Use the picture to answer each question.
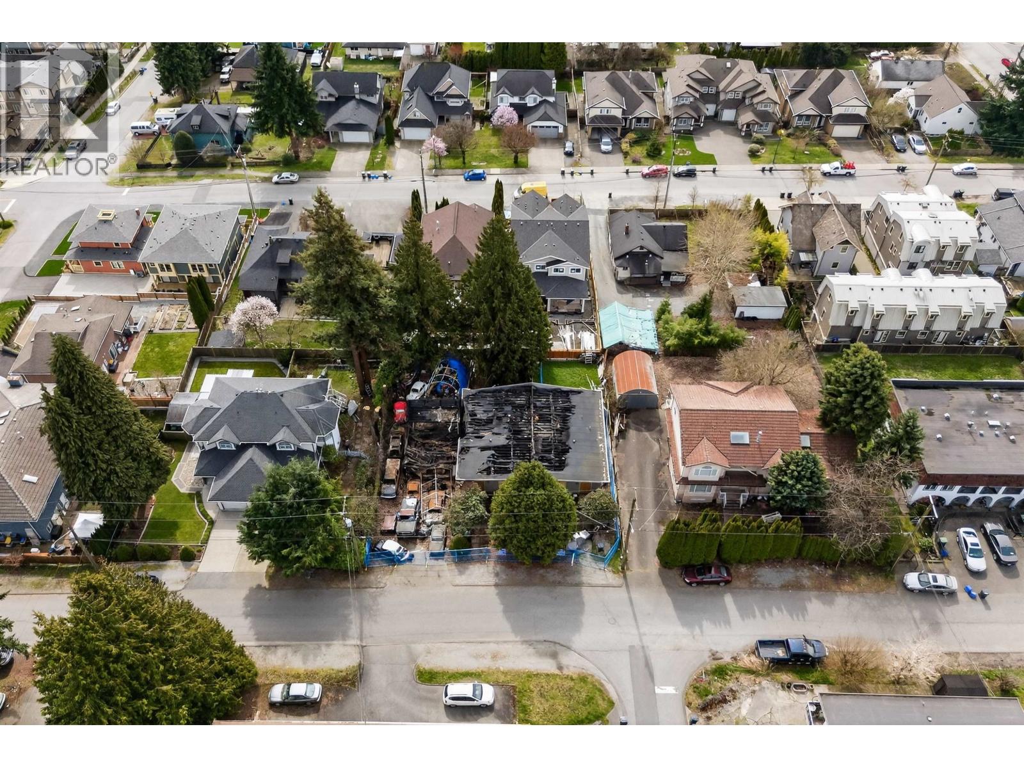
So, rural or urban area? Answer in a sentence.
The area is urban.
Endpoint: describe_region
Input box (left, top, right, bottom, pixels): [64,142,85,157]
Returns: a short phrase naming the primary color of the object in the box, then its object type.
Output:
gray car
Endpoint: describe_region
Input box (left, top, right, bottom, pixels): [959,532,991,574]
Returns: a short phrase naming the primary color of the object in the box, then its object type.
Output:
white car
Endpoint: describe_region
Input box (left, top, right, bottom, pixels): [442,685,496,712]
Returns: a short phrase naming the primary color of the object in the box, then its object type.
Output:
white car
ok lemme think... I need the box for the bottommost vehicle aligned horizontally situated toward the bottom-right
[758,639,827,667]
